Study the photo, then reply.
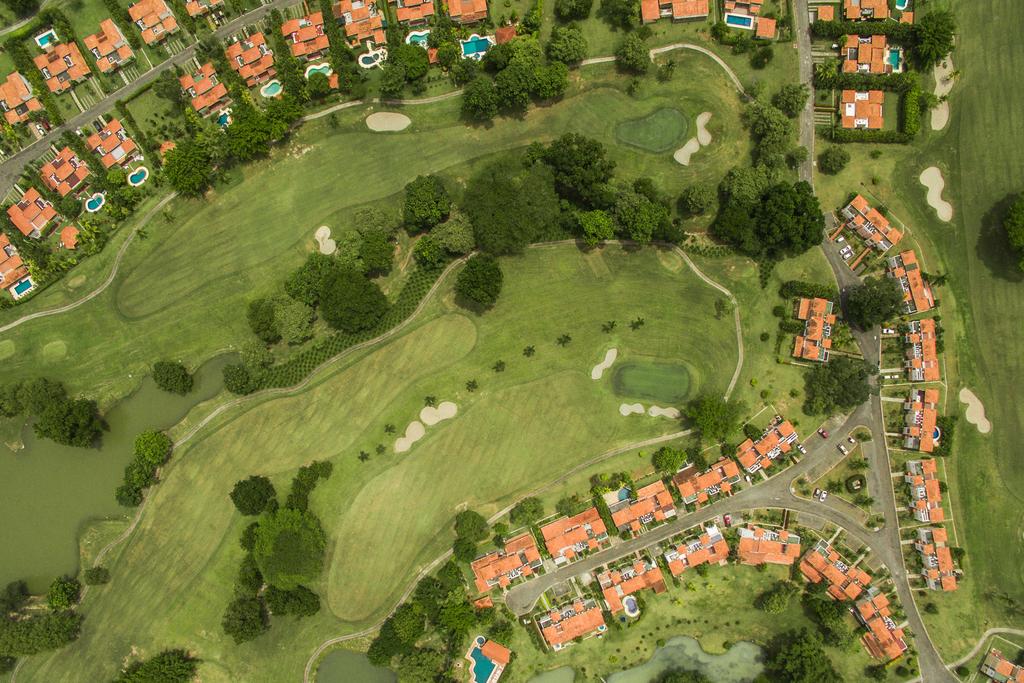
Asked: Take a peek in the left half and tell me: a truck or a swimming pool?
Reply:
swimming pool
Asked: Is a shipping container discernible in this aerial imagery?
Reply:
No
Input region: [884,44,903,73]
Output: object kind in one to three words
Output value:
swimming pool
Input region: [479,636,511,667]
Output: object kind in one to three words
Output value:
shed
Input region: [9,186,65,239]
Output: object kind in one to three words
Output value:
house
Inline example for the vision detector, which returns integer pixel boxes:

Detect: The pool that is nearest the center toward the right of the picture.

[602,486,632,502]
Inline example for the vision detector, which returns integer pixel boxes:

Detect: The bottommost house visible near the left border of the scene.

[0,239,34,291]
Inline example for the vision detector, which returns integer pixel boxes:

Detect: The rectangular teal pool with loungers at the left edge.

[12,276,38,298]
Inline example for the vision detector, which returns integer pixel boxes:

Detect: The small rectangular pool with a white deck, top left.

[35,29,58,48]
